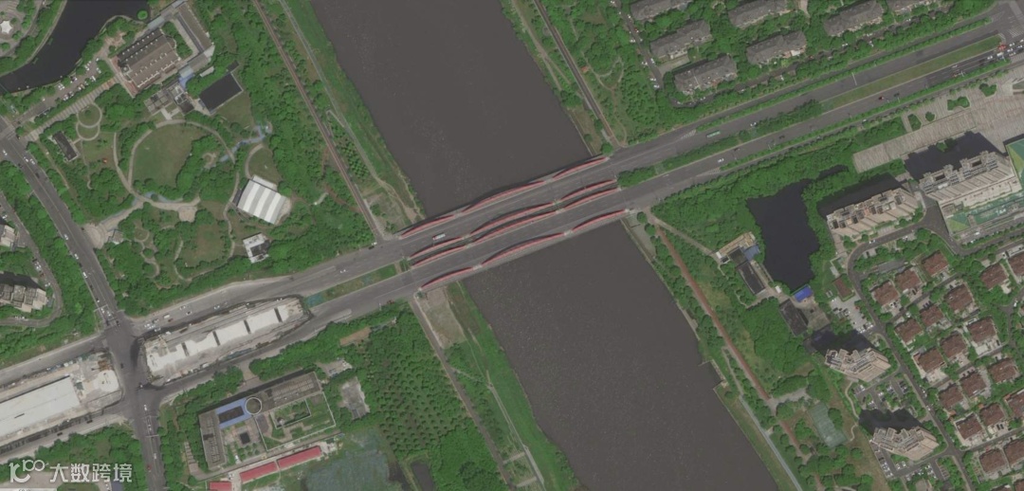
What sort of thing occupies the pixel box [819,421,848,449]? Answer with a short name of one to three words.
tennis court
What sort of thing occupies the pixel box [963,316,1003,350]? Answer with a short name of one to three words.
house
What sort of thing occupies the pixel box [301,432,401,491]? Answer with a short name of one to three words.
pond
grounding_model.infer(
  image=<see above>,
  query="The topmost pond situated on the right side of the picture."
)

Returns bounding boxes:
[748,179,818,294]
